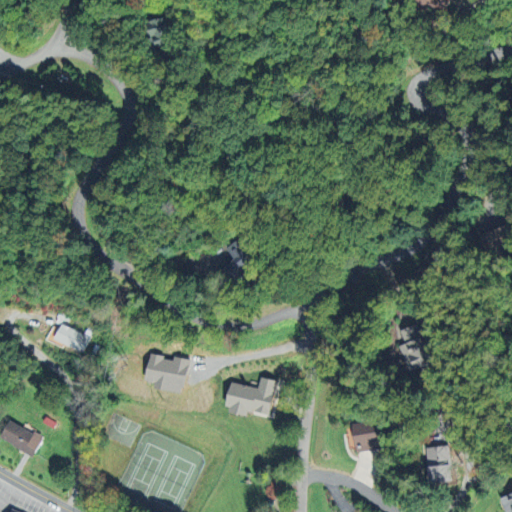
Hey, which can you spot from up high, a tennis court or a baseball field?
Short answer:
tennis court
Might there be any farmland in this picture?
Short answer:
No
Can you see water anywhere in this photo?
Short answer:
No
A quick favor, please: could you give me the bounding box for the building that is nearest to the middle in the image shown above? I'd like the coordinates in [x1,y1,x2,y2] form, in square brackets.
[226,242,248,272]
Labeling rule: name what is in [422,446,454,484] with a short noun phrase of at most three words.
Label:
house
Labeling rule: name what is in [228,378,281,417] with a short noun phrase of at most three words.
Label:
house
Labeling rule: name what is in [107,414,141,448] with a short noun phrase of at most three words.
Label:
basketball court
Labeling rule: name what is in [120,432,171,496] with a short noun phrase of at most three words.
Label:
tennis court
